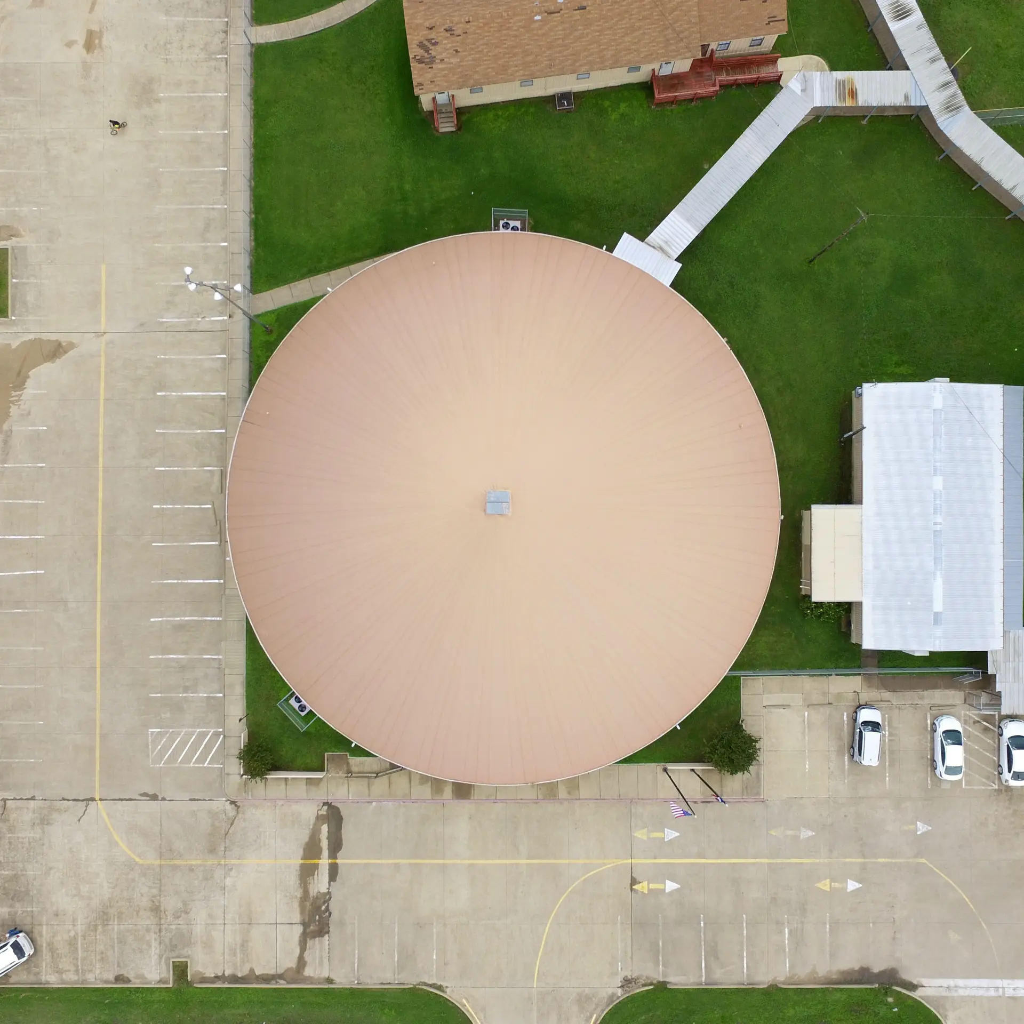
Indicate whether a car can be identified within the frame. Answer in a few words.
Yes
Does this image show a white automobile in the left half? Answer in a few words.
Yes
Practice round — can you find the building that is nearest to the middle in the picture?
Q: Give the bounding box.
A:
[227,232,782,787]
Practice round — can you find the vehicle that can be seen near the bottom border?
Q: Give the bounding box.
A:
[0,931,38,977]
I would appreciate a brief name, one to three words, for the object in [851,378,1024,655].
building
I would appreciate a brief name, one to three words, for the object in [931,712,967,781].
car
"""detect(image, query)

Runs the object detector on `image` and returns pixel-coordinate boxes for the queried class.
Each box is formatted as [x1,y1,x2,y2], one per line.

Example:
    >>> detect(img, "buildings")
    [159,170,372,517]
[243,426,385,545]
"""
[402,0,788,110]
[851,378,1024,655]
[227,232,782,787]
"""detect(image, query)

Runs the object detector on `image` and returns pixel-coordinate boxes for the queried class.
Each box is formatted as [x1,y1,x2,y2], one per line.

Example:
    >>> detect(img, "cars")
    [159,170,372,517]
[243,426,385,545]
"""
[998,716,1024,785]
[849,703,884,766]
[0,931,38,977]
[931,712,967,781]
